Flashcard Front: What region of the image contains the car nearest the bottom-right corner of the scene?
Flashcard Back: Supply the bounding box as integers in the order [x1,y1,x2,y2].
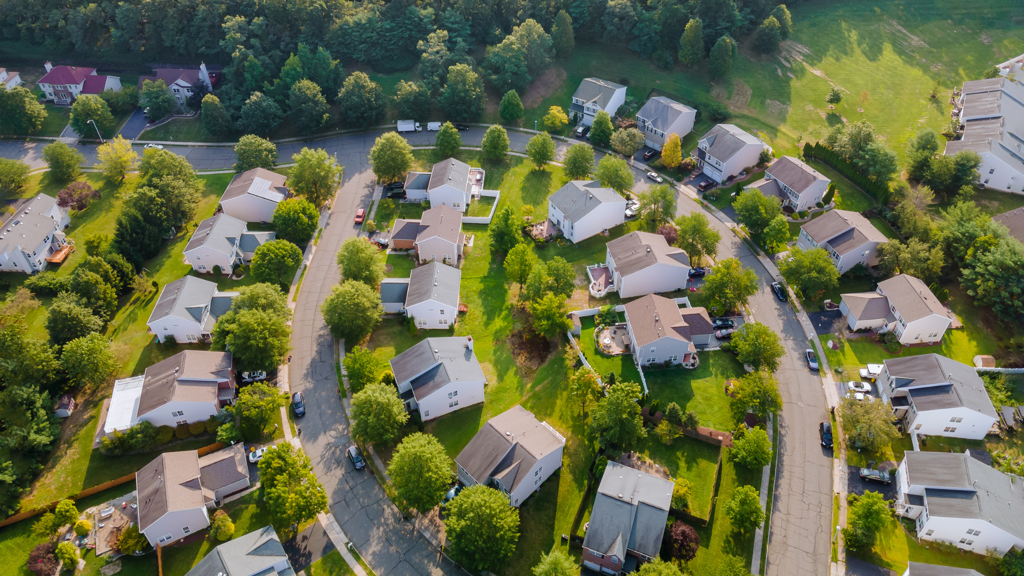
[858,466,893,486]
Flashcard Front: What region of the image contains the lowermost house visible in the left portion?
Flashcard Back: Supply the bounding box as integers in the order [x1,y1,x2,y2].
[189,526,308,576]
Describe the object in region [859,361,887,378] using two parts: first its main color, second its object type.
white car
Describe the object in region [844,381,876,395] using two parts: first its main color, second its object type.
white car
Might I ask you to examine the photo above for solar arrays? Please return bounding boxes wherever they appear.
[246,177,281,201]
